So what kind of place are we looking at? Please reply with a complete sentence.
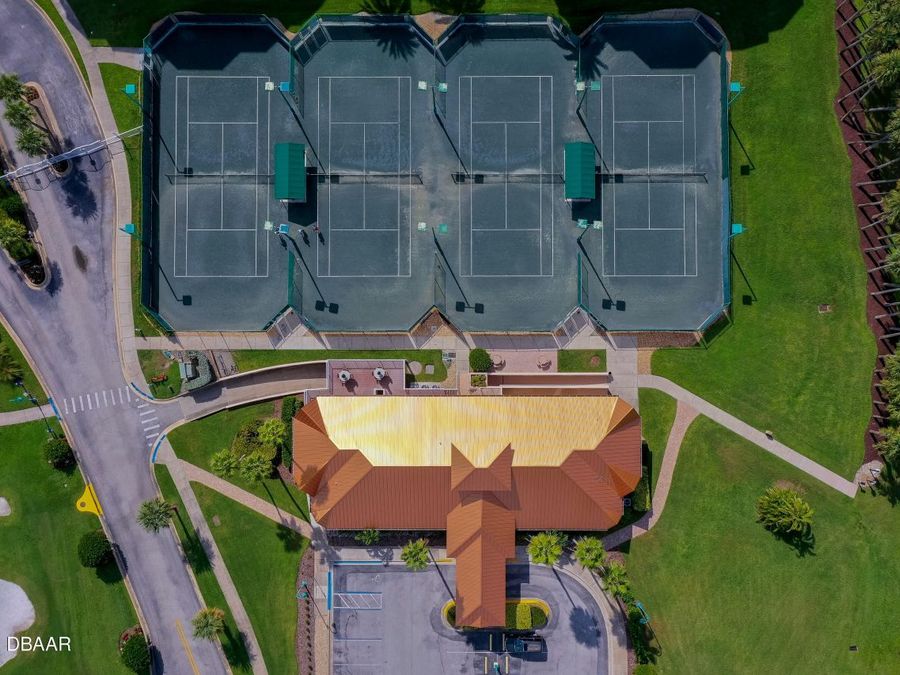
This looks like a sports ground.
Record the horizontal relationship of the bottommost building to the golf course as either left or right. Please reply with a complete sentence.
Relative to the golf course, the bottommost building is on the right.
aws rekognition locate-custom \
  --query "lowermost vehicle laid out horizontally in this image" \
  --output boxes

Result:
[503,636,549,659]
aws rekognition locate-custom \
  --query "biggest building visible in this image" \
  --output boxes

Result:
[292,396,642,628]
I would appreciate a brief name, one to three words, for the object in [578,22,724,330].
tennis court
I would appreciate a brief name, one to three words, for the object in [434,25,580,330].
tennis court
